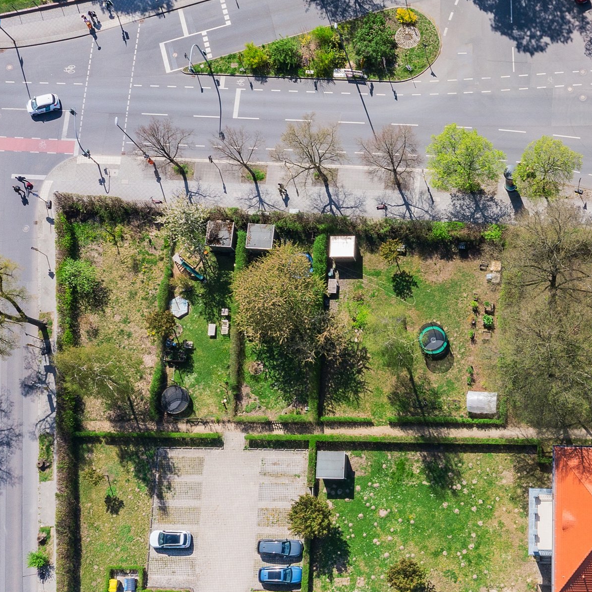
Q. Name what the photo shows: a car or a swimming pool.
car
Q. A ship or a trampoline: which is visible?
trampoline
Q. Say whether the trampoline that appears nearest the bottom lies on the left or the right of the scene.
left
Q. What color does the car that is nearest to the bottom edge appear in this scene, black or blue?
blue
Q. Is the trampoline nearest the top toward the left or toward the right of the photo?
right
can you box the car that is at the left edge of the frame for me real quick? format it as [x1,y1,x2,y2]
[28,95,61,116]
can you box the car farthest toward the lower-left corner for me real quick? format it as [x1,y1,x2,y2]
[149,529,191,550]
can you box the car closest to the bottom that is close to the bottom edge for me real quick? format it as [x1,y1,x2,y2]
[258,565,302,588]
